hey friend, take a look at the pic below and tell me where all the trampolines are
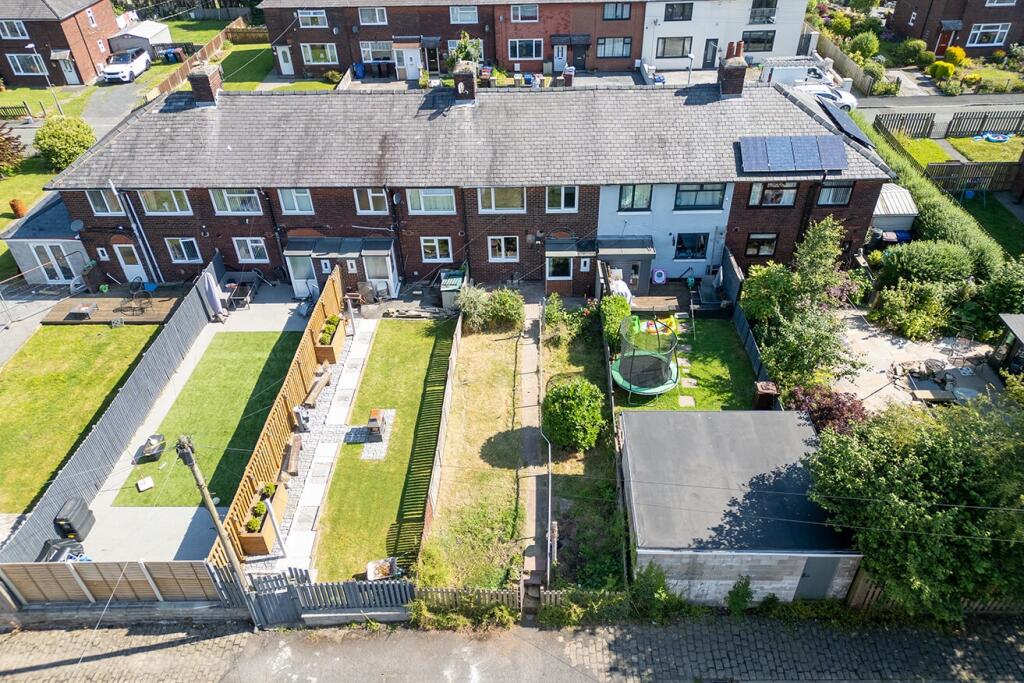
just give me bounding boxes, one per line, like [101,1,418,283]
[610,317,681,408]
